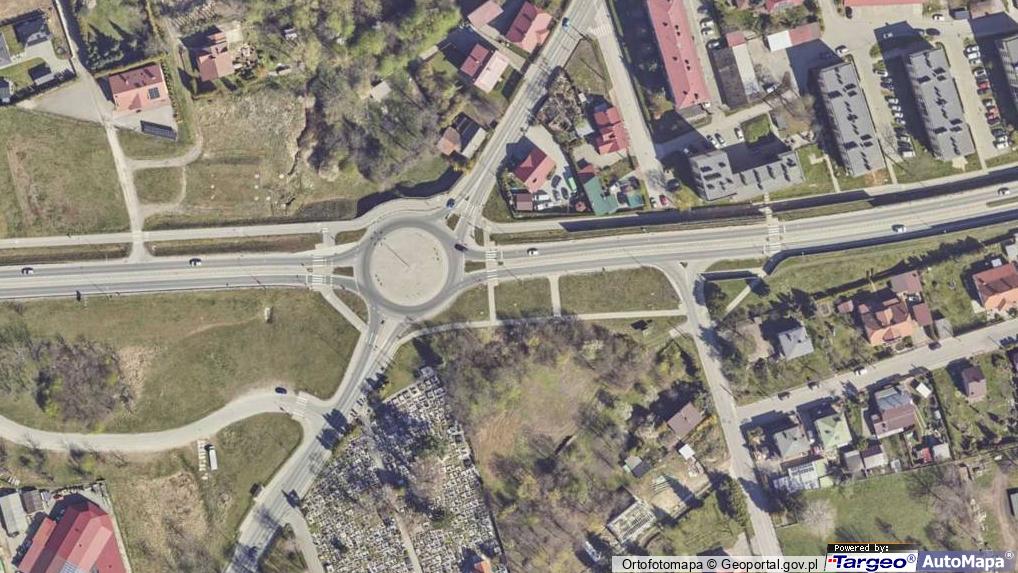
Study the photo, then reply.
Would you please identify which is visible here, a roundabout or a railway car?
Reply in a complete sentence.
The one in the frame is a roundabout.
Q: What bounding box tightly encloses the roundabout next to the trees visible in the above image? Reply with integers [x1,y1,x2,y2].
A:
[355,213,461,319]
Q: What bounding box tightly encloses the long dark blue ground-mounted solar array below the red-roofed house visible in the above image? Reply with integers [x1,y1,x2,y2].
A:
[141,120,176,140]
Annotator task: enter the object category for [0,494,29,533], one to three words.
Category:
shed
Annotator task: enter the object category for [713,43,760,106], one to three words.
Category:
barn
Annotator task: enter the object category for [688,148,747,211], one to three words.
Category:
building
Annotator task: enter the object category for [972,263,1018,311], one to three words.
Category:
house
